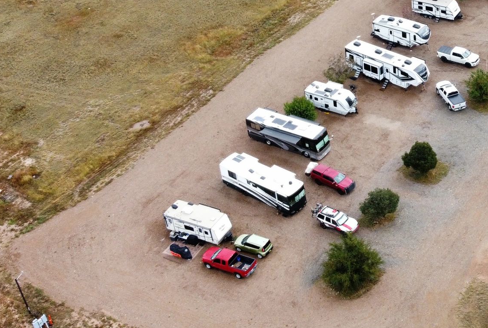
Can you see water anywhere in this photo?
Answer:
No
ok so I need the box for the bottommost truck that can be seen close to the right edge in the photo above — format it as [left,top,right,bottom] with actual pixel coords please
[434,81,466,111]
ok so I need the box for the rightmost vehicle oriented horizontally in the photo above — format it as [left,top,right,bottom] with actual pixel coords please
[436,46,480,68]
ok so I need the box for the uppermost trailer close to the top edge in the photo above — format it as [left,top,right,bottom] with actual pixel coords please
[410,0,462,22]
